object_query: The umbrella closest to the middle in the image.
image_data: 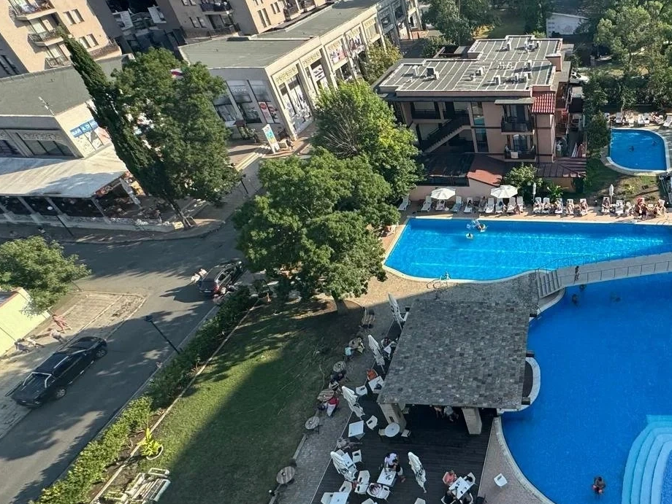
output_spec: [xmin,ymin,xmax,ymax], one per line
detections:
[392,307,405,333]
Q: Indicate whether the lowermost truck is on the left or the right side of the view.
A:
left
